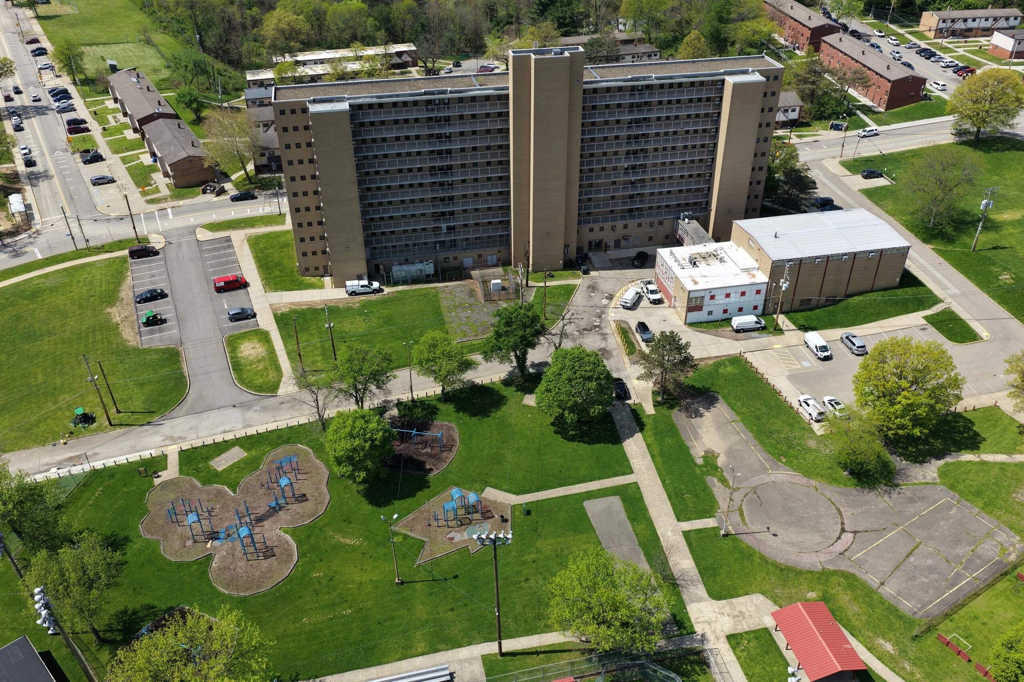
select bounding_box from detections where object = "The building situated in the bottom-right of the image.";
[771,598,875,682]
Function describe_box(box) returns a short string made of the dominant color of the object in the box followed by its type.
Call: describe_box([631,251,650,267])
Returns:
black car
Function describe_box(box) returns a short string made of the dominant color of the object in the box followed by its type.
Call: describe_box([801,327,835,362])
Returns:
white van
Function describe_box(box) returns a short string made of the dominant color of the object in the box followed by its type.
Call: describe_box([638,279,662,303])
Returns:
white truck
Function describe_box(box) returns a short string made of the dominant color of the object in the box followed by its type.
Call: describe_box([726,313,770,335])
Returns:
white vehicle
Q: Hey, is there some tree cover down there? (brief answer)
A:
Yes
